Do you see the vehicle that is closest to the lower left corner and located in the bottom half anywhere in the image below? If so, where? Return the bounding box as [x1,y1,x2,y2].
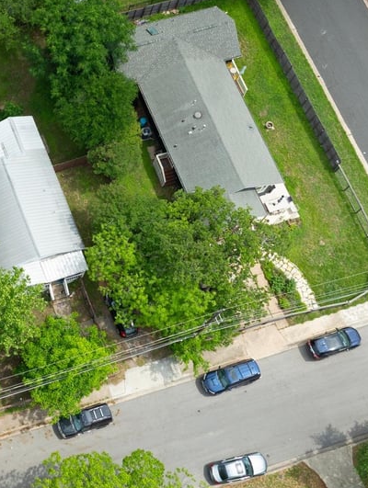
[55,403,114,440]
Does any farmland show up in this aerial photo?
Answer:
No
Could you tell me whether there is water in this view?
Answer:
No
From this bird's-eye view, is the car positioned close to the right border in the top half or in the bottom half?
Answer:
bottom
